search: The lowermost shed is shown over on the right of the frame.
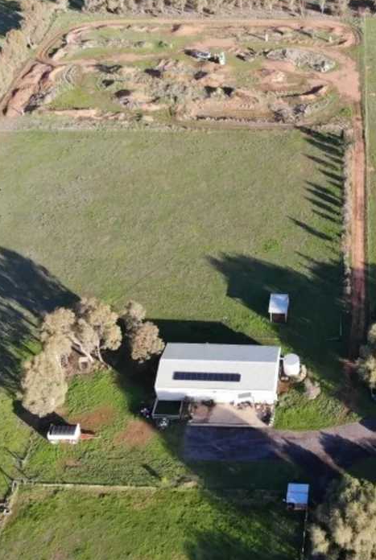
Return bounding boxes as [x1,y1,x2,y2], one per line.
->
[280,483,310,511]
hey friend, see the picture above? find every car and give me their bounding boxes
[217,53,227,63]
[197,49,214,58]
